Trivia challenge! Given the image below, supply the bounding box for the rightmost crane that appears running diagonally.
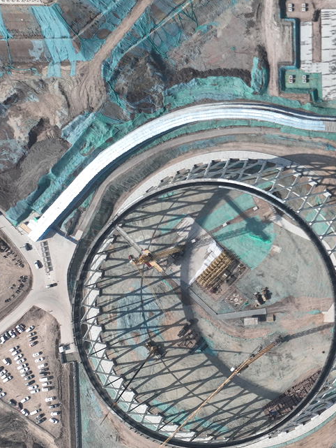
[161,339,270,448]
